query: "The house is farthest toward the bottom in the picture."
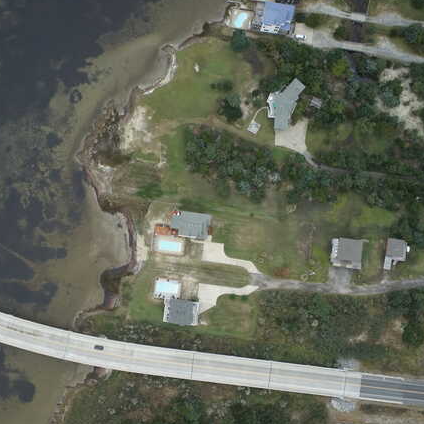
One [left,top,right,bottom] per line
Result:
[163,293,199,326]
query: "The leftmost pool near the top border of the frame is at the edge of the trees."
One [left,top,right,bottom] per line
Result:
[227,9,254,30]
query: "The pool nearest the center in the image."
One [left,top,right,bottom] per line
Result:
[152,236,185,256]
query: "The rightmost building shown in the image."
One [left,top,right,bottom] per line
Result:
[383,238,407,270]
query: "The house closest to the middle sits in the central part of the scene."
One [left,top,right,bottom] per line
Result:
[155,212,213,238]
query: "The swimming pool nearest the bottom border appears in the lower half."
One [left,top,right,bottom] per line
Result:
[154,278,181,298]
